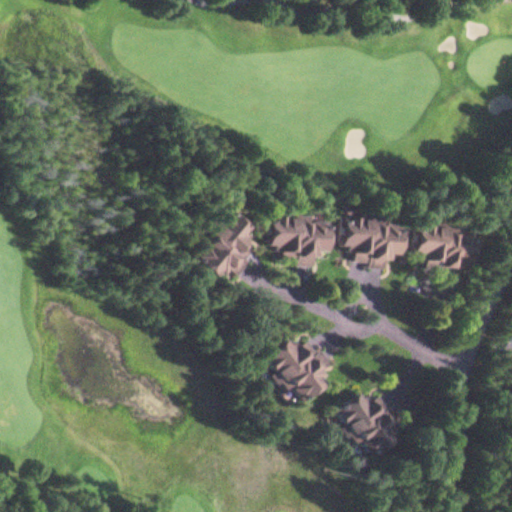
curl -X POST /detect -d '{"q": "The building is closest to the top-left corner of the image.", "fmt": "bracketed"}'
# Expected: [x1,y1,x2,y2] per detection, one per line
[200,215,261,285]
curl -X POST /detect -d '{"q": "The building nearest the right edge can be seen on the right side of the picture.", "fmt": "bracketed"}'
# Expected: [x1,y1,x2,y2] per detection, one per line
[419,222,482,276]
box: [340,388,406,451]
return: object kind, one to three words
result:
house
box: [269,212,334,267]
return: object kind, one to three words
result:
house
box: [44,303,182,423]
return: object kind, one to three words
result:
pond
